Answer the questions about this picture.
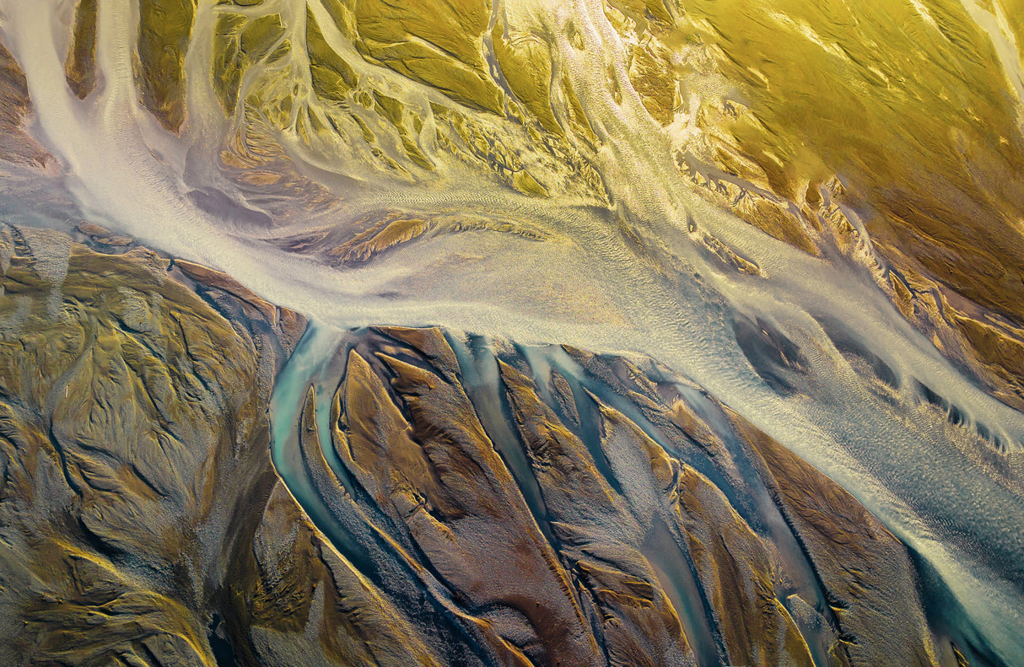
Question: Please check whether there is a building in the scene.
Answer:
No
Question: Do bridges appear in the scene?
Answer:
No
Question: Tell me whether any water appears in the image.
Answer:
Yes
